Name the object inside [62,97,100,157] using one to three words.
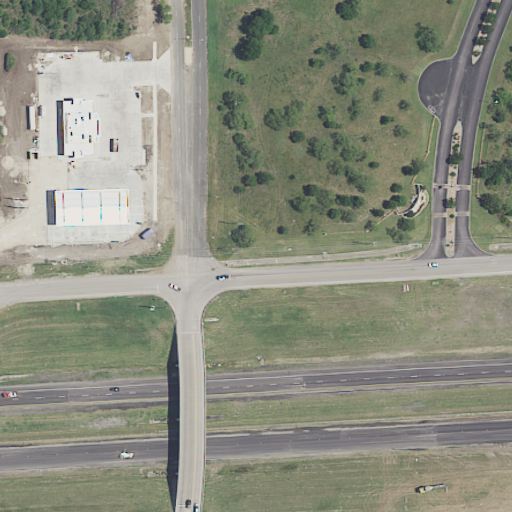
building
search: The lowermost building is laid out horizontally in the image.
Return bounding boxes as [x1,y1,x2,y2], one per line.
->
[54,190,128,226]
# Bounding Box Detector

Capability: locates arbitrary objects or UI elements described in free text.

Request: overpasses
[176,321,206,512]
